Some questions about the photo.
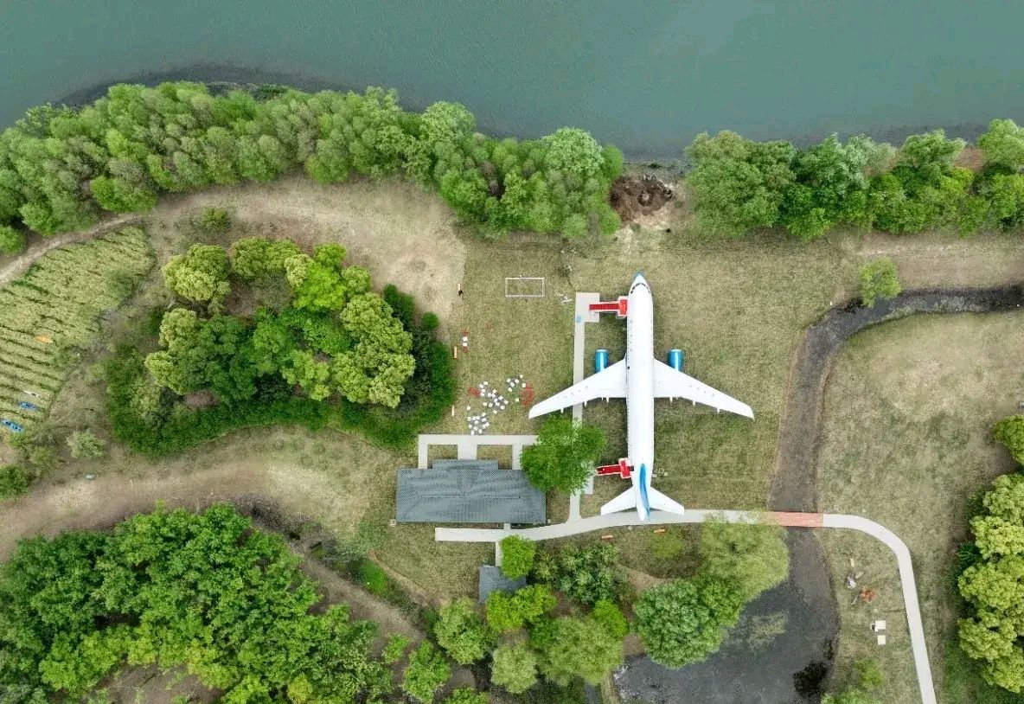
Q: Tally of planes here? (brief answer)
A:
1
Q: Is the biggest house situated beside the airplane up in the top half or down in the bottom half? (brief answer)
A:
bottom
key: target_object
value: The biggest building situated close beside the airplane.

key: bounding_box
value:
[396,457,546,524]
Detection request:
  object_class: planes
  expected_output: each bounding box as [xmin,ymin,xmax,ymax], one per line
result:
[529,273,753,522]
